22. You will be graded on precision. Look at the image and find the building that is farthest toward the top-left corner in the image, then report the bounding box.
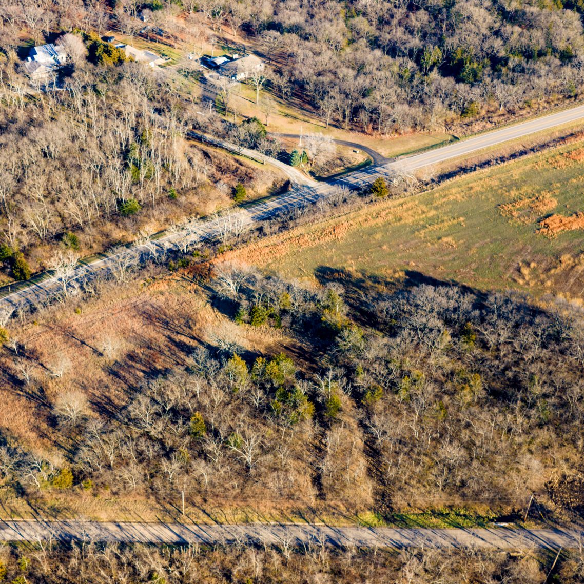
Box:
[26,43,73,78]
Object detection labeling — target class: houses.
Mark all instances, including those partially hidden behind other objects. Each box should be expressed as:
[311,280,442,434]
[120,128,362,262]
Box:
[213,53,265,78]
[116,44,169,68]
[26,43,73,78]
